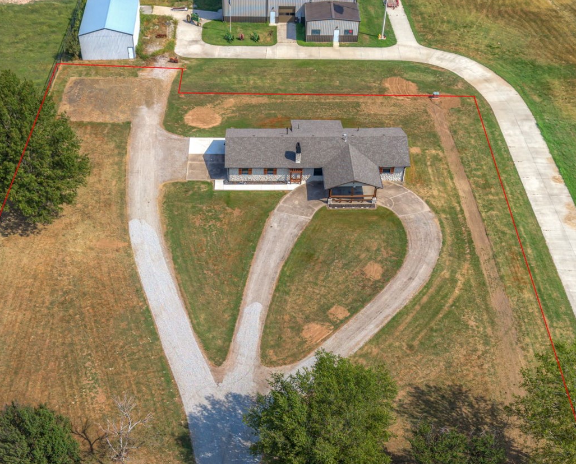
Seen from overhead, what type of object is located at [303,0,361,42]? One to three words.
building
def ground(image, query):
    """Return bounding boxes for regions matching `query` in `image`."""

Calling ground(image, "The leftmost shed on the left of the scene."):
[78,0,138,62]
